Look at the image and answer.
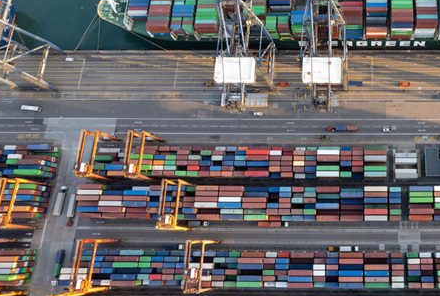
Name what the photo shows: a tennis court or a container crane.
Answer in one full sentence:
I can see a container crane in this picture.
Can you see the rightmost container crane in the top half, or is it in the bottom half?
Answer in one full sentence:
The top half of the photo is where the rightmost container crane is.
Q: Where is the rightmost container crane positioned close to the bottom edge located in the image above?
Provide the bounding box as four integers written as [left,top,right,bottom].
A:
[178,236,222,292]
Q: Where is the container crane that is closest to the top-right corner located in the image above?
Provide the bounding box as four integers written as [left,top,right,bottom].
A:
[300,0,351,112]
